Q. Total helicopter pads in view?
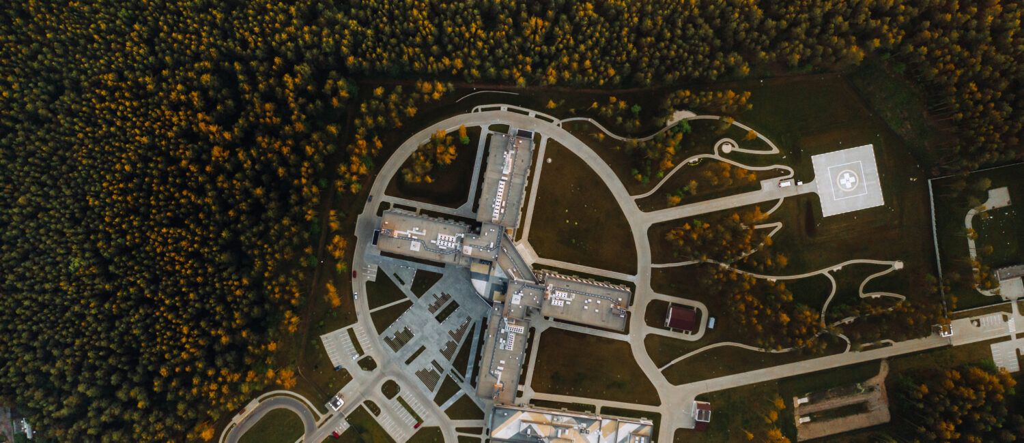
1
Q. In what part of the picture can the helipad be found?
right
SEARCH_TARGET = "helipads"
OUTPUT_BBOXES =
[813,144,883,216]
